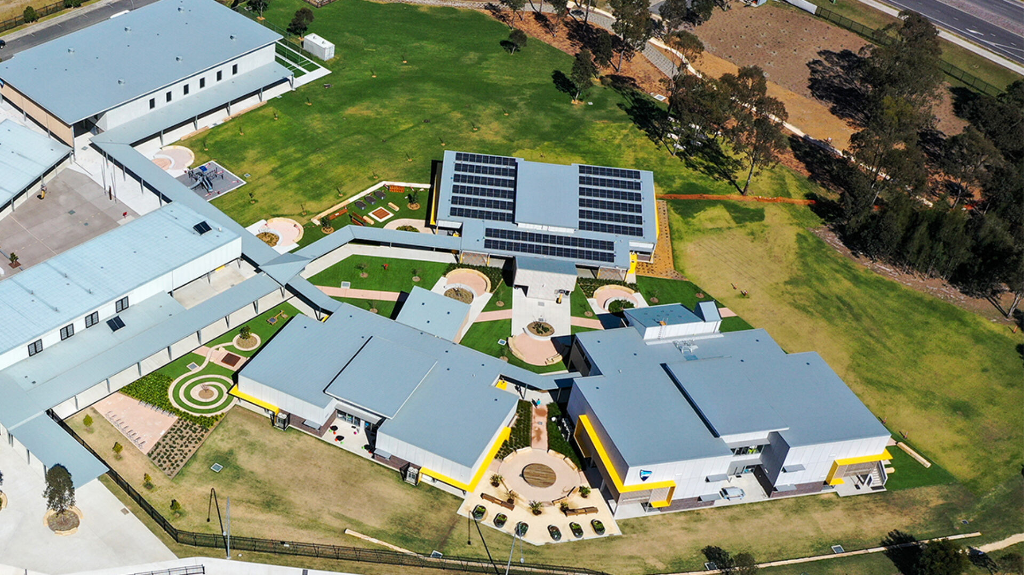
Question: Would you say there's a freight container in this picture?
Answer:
Yes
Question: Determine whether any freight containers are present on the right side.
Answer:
No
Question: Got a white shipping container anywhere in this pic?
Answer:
Yes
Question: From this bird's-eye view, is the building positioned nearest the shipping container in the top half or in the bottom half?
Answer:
top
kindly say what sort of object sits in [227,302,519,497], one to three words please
building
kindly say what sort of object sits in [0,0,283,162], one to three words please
building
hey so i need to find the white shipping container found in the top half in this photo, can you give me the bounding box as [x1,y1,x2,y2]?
[304,30,336,60]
